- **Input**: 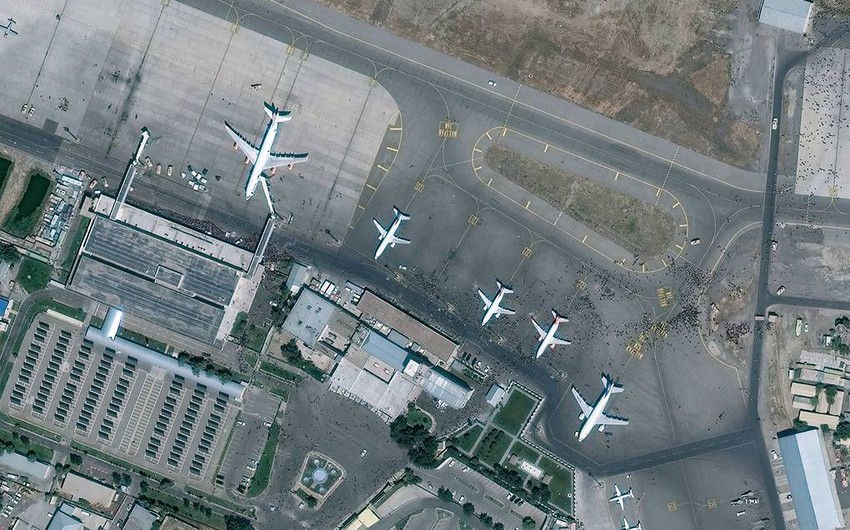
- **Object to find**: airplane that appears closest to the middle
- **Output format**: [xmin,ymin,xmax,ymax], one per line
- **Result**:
[374,208,411,259]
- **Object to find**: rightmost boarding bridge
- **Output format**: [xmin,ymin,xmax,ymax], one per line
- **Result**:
[246,174,277,277]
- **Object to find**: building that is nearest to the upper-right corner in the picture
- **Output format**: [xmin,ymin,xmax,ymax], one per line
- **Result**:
[759,0,813,32]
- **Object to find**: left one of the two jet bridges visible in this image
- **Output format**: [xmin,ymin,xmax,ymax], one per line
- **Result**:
[110,129,151,219]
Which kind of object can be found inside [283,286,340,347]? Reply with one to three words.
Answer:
building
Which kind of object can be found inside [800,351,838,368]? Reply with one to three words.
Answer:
house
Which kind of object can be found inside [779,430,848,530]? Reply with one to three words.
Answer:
hangar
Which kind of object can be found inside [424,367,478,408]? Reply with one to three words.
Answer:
building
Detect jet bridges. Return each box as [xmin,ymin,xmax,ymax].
[246,174,277,277]
[110,129,151,219]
